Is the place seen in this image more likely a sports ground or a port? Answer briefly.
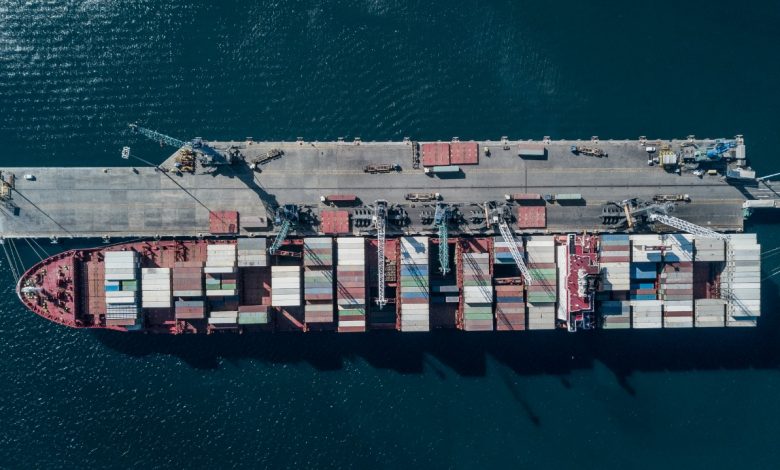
port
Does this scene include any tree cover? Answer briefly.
No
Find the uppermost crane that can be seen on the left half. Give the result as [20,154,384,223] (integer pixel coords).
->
[126,119,245,168]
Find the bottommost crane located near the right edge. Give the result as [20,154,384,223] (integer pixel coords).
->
[609,195,741,250]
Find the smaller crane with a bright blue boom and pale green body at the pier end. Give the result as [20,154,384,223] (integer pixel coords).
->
[685,140,745,171]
